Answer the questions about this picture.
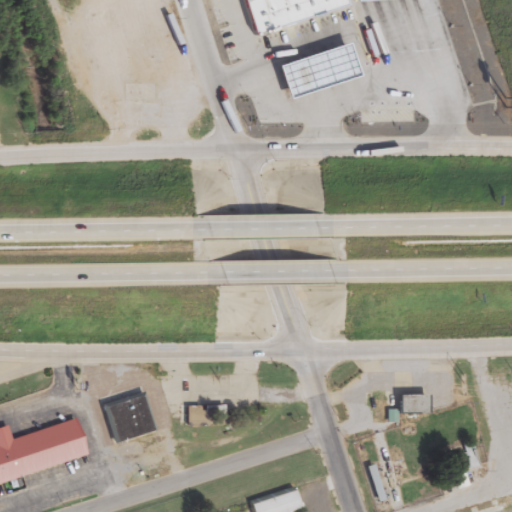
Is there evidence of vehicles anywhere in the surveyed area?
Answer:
Yes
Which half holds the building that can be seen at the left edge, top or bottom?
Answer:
bottom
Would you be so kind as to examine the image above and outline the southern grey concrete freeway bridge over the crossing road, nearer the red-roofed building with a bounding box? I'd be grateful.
[210,260,344,284]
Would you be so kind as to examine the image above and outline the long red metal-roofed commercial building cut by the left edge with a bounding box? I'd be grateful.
[0,418,88,482]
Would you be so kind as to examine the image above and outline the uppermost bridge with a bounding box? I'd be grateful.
[198,214,327,240]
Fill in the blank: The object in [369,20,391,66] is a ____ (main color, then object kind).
white truck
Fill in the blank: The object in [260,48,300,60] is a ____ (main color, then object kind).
white vehicle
